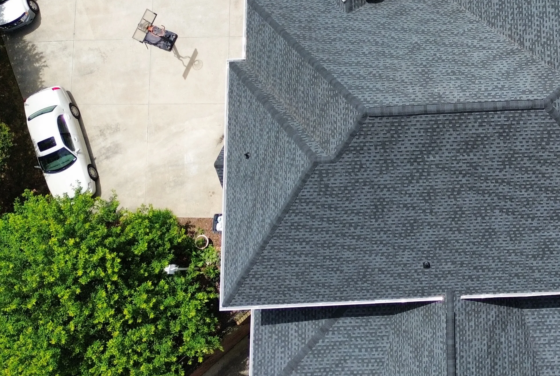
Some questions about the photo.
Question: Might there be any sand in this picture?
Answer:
No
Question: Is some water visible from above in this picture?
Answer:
No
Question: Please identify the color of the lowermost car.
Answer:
white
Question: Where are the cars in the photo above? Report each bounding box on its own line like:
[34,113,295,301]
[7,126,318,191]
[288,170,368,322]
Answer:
[0,0,38,36]
[21,88,98,207]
